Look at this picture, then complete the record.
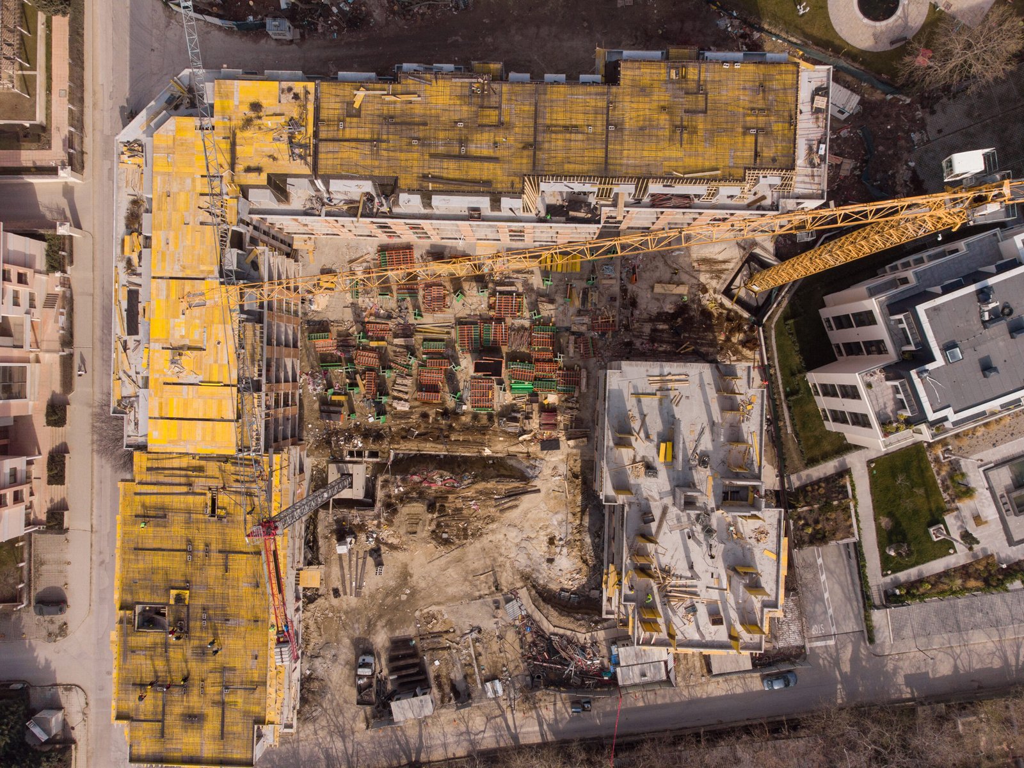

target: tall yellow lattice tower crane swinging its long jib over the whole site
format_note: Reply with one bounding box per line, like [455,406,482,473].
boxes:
[174,146,1024,320]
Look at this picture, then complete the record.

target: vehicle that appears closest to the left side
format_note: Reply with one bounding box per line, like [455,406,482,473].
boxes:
[32,601,63,617]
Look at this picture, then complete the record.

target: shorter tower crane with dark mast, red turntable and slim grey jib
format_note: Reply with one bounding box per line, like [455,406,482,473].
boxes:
[176,0,370,676]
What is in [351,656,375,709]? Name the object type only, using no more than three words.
truck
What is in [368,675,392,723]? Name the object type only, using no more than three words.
work vehicle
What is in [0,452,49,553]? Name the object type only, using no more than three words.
house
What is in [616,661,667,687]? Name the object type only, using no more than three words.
building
